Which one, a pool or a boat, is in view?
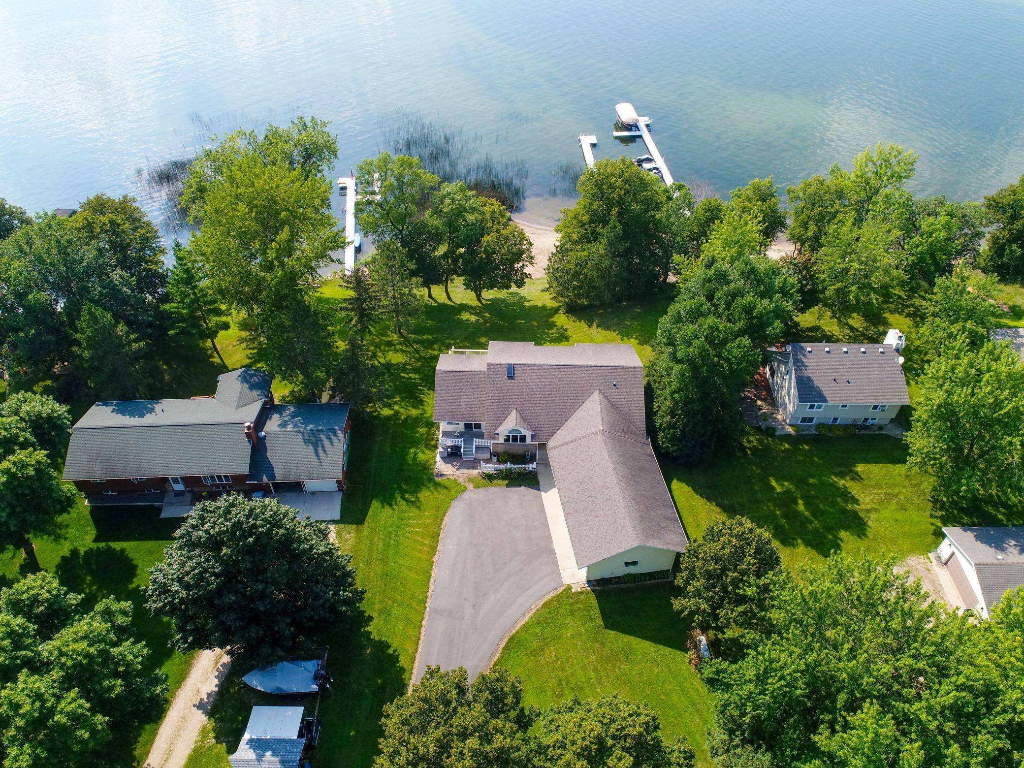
boat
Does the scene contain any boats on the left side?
Yes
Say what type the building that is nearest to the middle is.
home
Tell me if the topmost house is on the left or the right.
right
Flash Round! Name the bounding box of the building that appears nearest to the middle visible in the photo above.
[433,342,685,580]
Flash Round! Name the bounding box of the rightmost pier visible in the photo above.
[613,112,679,193]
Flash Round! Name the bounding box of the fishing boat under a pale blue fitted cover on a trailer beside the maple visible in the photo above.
[243,662,327,692]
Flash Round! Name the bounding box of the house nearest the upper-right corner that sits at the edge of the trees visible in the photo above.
[768,323,915,425]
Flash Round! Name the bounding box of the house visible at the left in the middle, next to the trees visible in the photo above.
[66,366,354,513]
